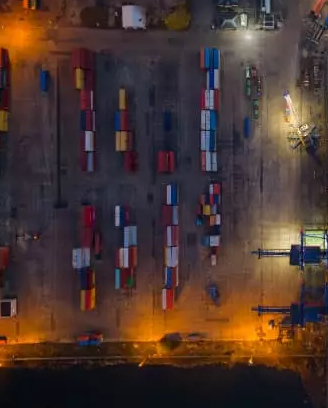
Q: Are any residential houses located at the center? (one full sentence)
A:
No, no residential house can be made out at the center.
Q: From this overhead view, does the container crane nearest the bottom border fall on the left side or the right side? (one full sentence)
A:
The container crane nearest the bottom border appears in the right half of the scene.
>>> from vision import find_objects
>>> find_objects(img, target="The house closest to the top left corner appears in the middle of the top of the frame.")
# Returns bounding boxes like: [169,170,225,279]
[122,3,147,28]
